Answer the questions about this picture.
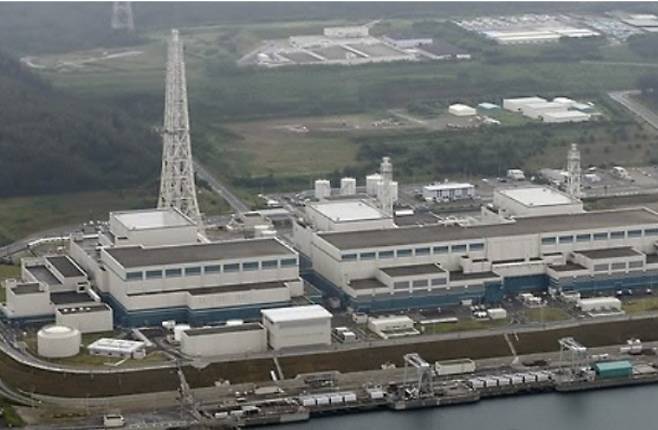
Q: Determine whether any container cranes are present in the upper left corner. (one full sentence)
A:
No, no container crane is visible in the upper left corner.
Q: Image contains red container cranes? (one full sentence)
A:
No, there is no red container crane in the image.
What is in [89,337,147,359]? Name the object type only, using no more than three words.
building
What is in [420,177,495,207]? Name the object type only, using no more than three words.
building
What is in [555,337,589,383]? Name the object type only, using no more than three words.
container crane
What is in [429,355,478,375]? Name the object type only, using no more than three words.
house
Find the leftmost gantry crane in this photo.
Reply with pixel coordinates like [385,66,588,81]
[402,352,434,400]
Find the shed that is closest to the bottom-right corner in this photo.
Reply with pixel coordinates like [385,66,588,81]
[587,357,636,380]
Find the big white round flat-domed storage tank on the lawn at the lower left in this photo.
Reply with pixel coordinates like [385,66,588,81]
[37,324,82,359]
